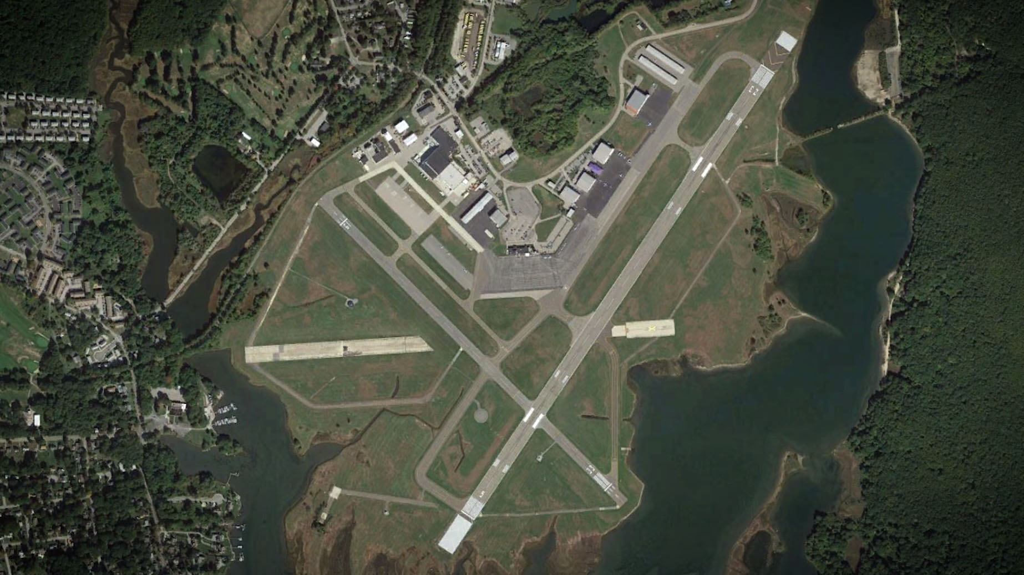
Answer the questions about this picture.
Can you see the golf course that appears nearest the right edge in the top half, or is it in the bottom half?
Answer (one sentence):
The golf course that appears nearest the right edge sits in the top half of the picture.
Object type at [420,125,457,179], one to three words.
building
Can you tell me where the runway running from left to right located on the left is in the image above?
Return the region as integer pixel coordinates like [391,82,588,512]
[245,336,433,363]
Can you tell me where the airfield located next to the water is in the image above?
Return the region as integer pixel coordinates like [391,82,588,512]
[245,31,797,554]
